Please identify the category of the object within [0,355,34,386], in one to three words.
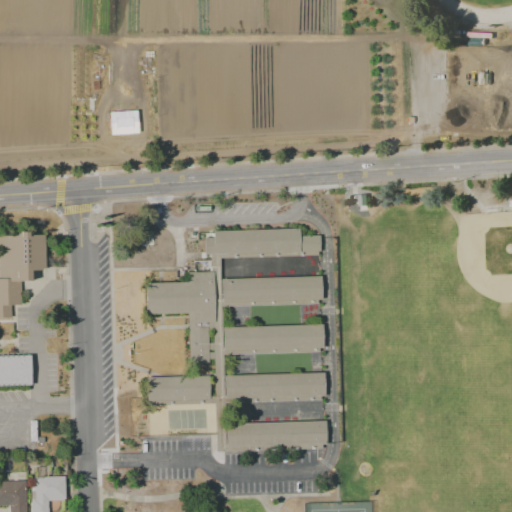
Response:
building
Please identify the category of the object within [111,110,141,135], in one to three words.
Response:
barn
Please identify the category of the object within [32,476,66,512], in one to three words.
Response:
house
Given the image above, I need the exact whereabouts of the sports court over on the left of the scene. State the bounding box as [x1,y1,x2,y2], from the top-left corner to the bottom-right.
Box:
[168,410,206,428]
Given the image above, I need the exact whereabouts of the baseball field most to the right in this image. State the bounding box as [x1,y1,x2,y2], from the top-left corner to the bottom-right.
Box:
[458,212,512,302]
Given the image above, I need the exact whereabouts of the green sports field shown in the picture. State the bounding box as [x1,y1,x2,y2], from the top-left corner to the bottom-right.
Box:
[334,204,512,512]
